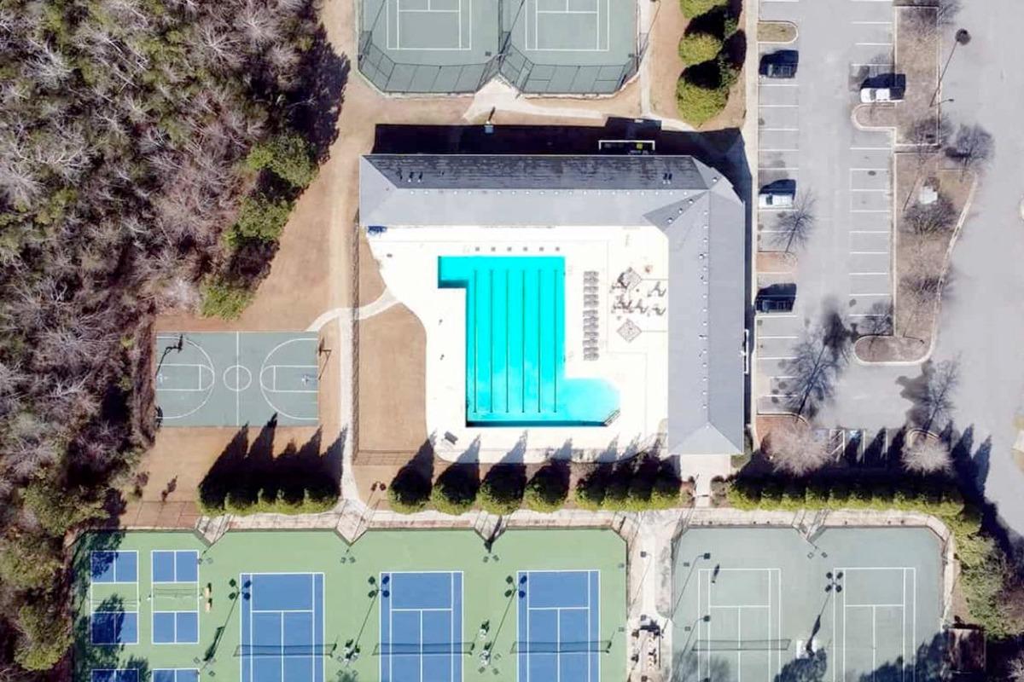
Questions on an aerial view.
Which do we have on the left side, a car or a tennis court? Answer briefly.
tennis court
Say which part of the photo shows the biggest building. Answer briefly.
center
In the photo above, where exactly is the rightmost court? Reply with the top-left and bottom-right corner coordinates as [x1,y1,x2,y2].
[834,568,915,682]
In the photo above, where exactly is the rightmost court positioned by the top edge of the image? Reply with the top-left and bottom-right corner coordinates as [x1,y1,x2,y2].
[525,0,609,50]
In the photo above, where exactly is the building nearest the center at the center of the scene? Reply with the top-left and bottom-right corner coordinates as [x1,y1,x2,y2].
[360,154,745,455]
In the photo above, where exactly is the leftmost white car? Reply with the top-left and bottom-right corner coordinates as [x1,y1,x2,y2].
[758,192,795,210]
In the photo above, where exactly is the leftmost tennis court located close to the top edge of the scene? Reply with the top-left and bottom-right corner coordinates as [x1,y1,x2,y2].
[387,0,471,49]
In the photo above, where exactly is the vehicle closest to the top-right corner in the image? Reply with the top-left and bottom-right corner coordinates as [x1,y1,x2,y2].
[861,86,906,104]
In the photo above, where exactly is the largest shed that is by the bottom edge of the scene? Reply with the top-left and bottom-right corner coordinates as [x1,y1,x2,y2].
[948,630,984,670]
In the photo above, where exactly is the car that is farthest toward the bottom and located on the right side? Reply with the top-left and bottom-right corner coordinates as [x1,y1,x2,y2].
[756,295,794,313]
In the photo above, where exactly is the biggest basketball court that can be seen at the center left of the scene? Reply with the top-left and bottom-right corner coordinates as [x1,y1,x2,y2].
[156,332,319,427]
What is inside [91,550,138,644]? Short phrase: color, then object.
blue sports court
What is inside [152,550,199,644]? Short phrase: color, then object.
blue sports court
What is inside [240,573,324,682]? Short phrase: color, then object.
blue tennis court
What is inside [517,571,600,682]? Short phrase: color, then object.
blue tennis court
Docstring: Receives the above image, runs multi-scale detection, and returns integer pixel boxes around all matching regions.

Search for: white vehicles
[861,86,906,104]
[758,192,795,210]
